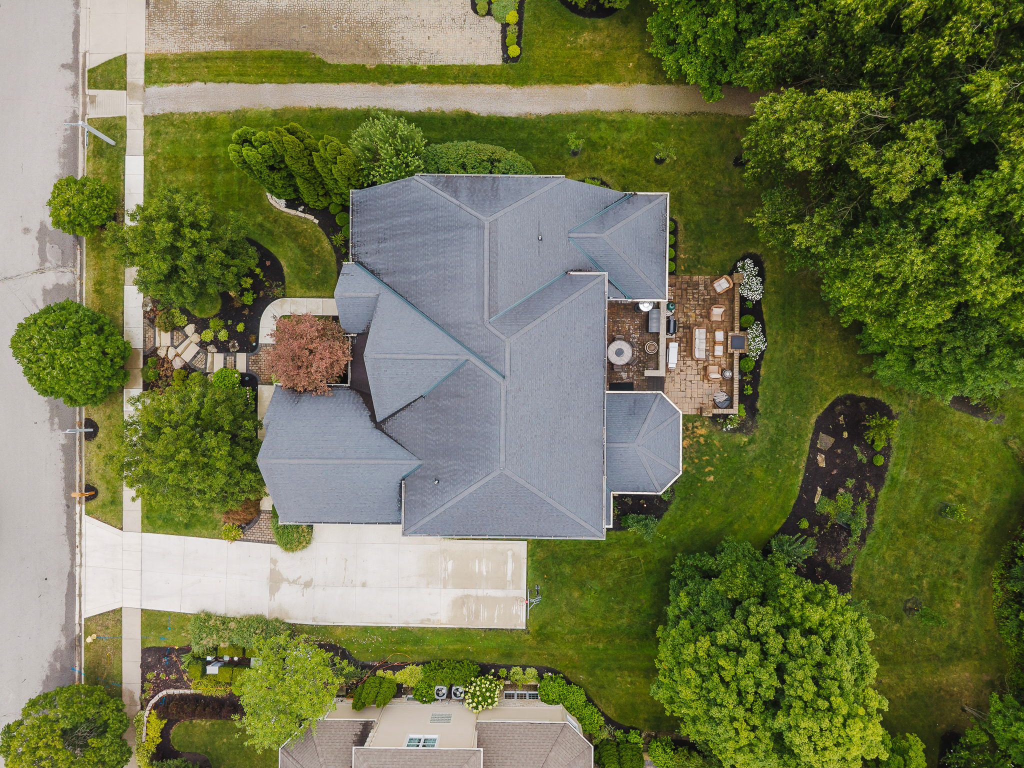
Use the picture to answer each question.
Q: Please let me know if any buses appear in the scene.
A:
No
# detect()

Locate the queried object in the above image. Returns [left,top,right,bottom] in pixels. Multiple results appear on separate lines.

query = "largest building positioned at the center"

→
[257,173,683,540]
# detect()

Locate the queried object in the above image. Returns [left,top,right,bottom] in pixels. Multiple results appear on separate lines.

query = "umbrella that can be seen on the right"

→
[711,388,731,409]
